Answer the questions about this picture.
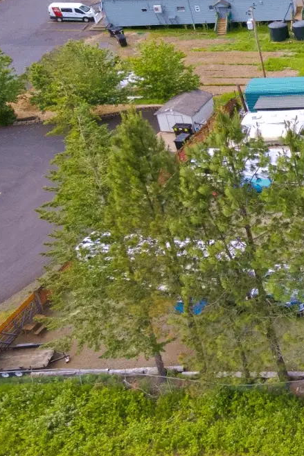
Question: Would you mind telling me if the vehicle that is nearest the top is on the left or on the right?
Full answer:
You can find the vehicle that is nearest the top on the left side of the picture.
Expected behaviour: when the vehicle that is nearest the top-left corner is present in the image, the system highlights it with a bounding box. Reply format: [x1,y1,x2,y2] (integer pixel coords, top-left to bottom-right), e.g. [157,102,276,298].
[48,0,97,22]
